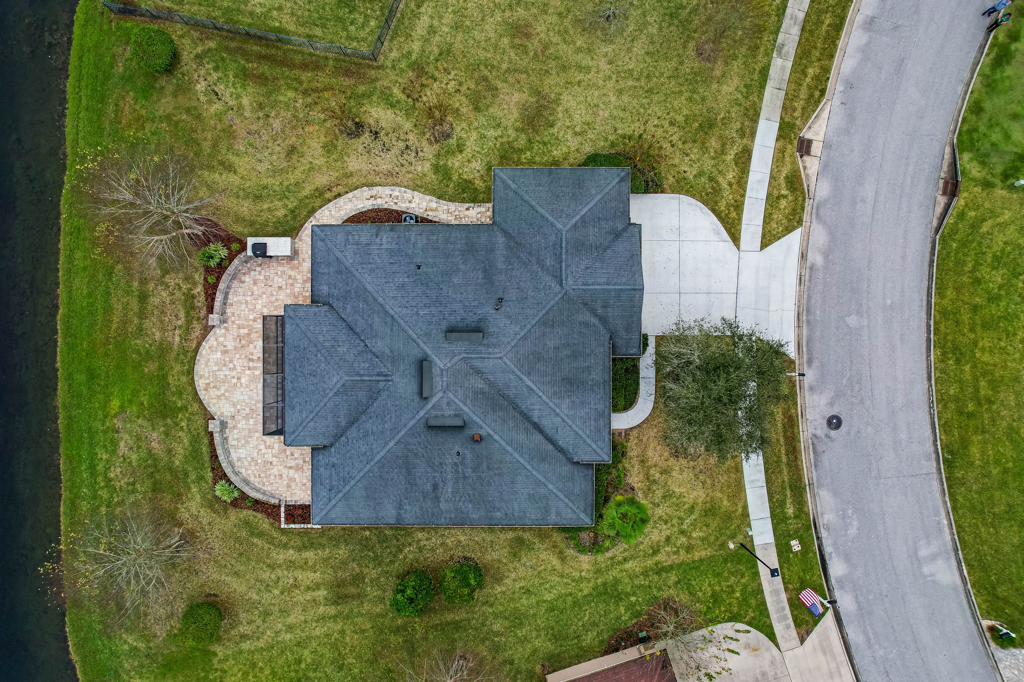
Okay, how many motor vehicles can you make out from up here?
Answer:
zero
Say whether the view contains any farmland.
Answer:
No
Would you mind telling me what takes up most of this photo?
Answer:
grass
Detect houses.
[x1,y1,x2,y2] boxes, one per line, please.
[547,644,680,682]
[283,167,645,526]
